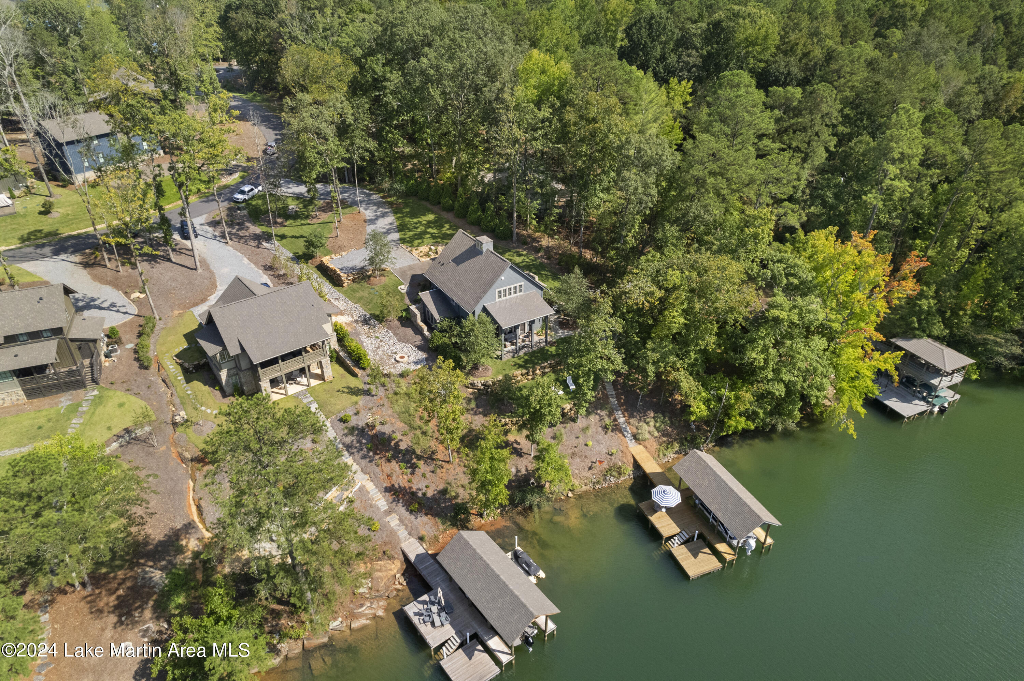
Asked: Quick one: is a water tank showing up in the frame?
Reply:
No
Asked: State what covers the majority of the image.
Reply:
trees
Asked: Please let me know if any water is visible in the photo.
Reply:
Yes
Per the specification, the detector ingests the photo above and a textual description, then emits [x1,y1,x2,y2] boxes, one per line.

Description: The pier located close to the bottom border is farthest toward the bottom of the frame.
[439,639,500,681]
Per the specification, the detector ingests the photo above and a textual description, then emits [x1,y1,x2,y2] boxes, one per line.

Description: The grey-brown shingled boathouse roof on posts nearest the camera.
[436,531,561,660]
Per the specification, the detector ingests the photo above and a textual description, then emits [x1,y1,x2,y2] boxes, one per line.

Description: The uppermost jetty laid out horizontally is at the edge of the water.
[868,372,962,423]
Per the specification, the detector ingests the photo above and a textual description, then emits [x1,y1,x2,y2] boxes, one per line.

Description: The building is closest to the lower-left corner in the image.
[0,282,111,406]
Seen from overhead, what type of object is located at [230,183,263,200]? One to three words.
vehicle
